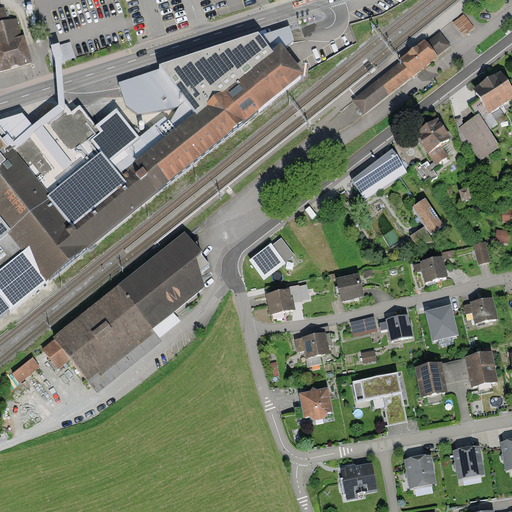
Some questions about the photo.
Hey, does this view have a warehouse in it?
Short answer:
Yes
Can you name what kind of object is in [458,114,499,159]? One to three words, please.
building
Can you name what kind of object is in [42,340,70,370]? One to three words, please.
shed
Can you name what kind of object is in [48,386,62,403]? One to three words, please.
vehicle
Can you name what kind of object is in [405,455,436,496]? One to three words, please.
house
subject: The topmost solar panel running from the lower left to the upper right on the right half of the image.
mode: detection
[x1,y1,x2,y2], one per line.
[357,158,402,193]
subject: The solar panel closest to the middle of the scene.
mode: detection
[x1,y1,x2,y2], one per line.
[253,248,280,274]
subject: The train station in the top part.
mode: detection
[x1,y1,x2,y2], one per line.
[352,40,438,114]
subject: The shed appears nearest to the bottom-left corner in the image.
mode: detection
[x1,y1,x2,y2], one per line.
[12,358,40,383]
